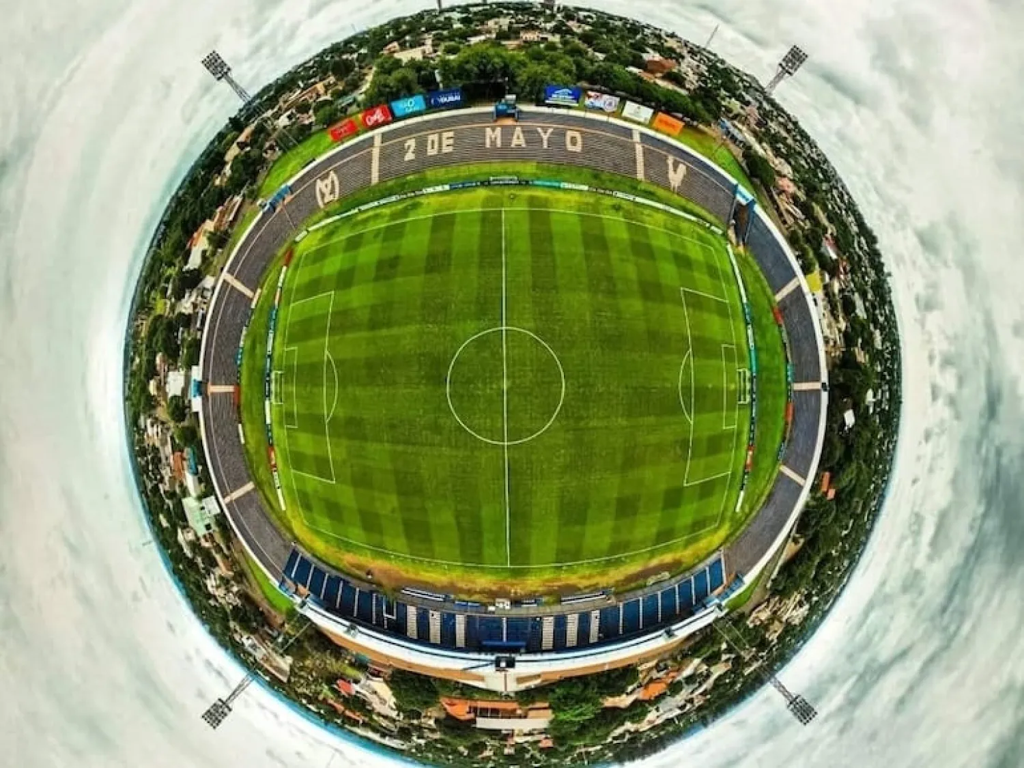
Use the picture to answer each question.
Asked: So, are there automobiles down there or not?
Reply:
No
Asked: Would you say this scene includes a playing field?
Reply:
Yes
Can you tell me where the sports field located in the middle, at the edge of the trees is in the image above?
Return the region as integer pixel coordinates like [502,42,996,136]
[280,205,740,569]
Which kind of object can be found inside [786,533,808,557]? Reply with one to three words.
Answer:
house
